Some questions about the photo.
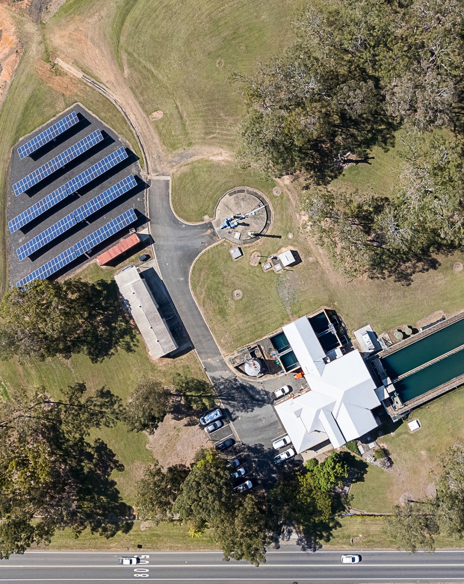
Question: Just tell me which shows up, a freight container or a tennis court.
freight container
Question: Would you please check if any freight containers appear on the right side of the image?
No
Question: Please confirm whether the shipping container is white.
No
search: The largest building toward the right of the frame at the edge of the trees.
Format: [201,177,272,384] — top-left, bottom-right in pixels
[275,316,381,454]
